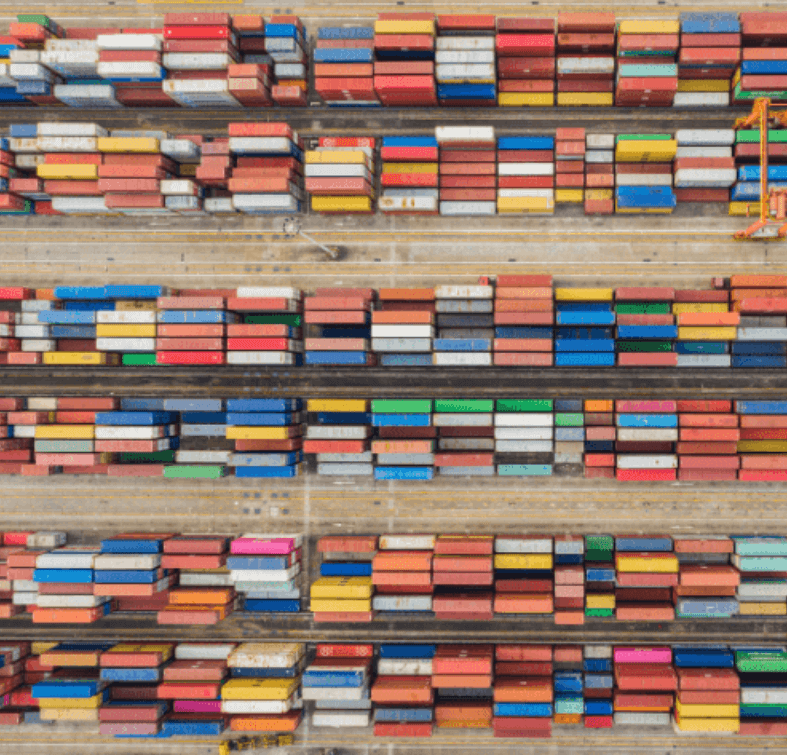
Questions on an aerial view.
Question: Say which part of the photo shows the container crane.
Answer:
top right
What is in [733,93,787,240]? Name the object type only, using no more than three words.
container crane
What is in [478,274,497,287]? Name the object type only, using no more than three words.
vehicle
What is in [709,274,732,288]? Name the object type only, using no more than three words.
vehicle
